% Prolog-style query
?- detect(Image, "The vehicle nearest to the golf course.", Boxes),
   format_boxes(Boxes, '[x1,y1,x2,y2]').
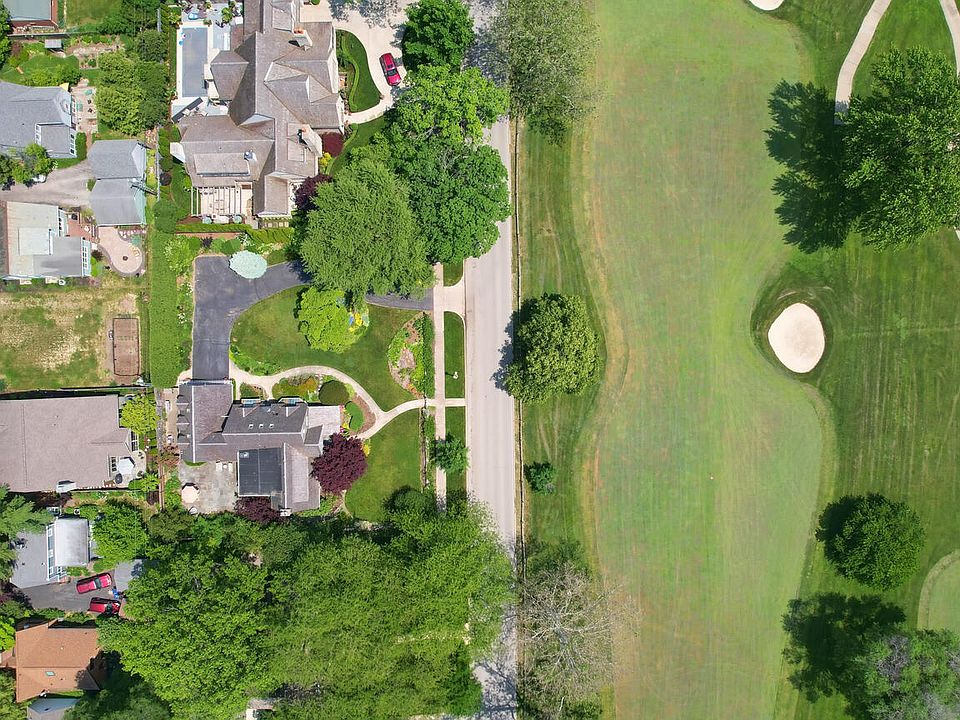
[378,51,402,87]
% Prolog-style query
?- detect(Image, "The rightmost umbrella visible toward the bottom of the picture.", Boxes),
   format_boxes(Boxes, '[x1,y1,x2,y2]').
[181,485,200,503]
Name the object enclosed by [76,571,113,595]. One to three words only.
car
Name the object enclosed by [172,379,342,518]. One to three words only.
house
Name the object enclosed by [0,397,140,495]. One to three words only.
house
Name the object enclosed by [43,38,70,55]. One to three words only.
shed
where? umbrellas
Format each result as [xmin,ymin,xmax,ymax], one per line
[113,473,128,484]
[116,458,137,475]
[181,485,200,503]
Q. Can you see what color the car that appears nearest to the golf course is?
red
